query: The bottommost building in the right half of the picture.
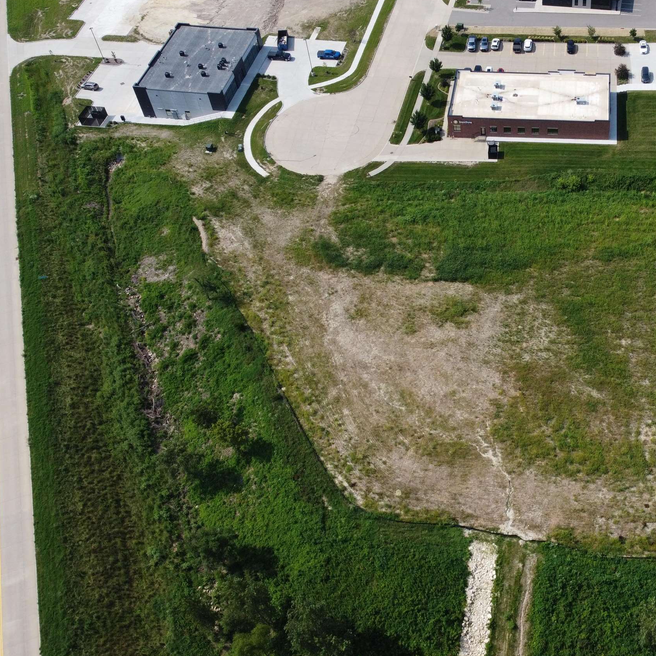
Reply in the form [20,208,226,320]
[447,68,610,141]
